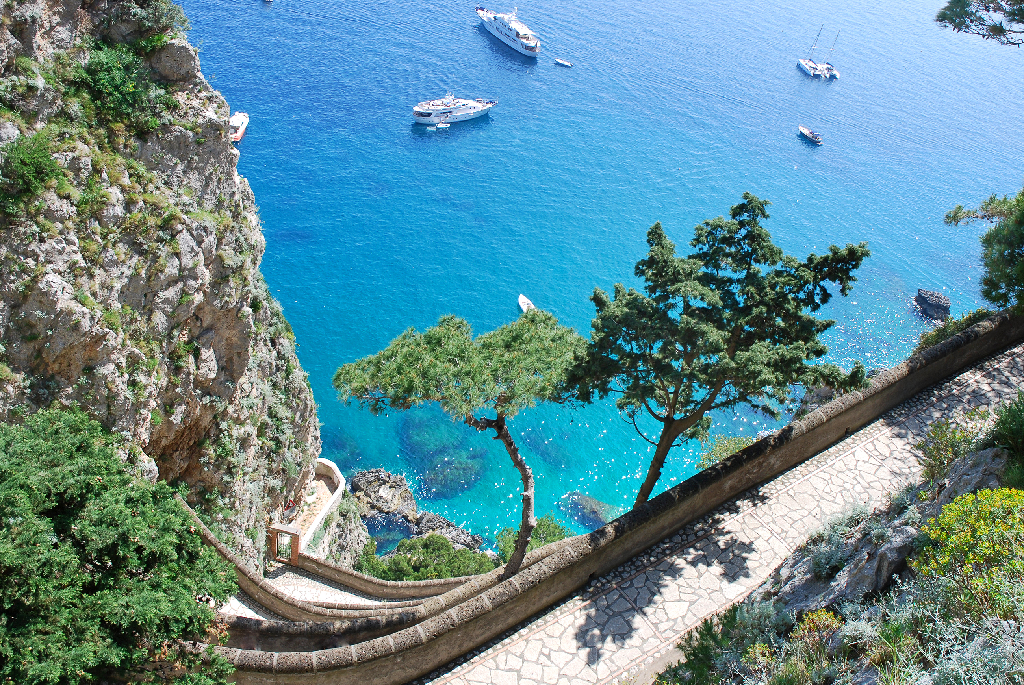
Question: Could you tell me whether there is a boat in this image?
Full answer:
Yes, there's a boat here.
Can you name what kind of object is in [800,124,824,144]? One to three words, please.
boat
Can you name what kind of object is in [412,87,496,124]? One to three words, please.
boat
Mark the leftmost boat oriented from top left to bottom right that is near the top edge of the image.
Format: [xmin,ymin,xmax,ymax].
[479,3,543,57]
